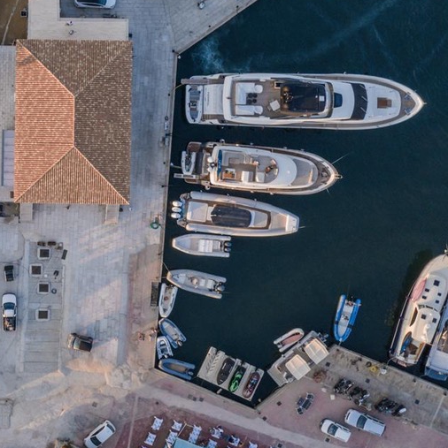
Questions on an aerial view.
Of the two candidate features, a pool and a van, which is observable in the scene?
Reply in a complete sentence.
I can see a van in this picture.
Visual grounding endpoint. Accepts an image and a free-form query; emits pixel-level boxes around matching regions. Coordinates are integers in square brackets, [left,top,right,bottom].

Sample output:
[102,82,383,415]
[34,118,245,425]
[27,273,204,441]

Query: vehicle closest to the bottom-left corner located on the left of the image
[85,421,117,448]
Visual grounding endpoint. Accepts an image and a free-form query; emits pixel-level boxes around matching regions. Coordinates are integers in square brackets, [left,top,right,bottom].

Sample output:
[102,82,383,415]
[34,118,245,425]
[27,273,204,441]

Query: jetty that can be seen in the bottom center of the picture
[197,346,263,402]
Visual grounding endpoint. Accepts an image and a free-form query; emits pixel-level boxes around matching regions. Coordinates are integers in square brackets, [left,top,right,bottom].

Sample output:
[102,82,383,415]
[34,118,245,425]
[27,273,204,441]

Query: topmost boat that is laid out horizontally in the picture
[175,70,427,133]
